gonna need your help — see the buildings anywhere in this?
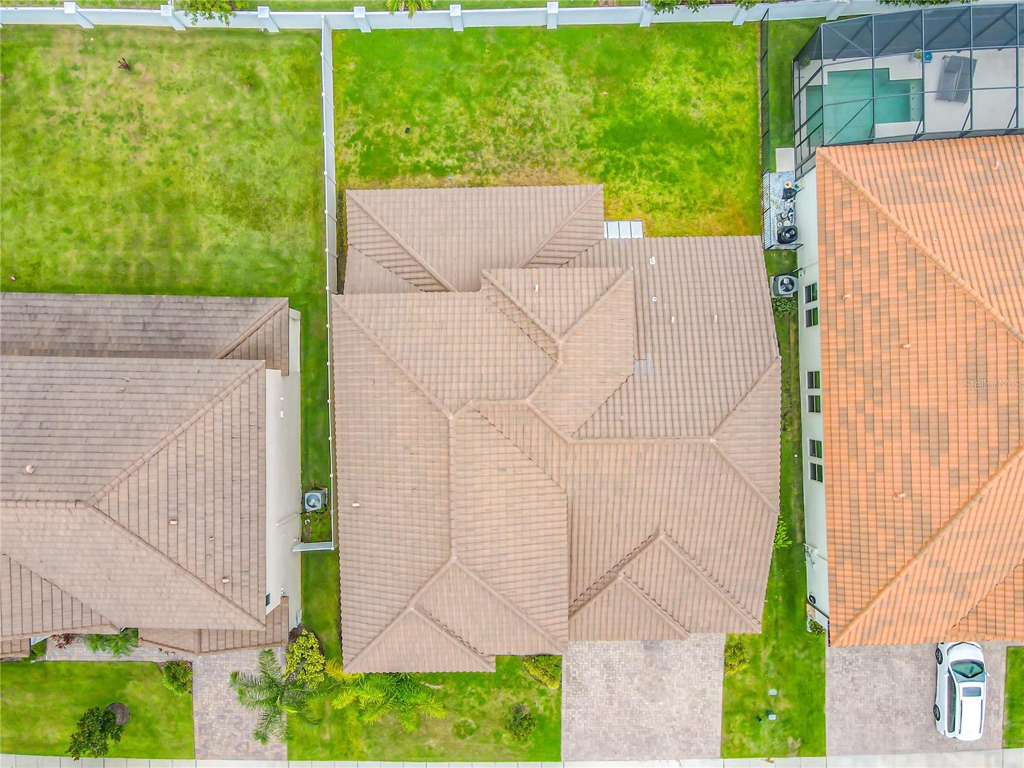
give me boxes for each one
[0,292,302,661]
[329,182,784,676]
[796,133,1024,649]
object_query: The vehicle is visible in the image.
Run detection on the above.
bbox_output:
[932,640,988,740]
